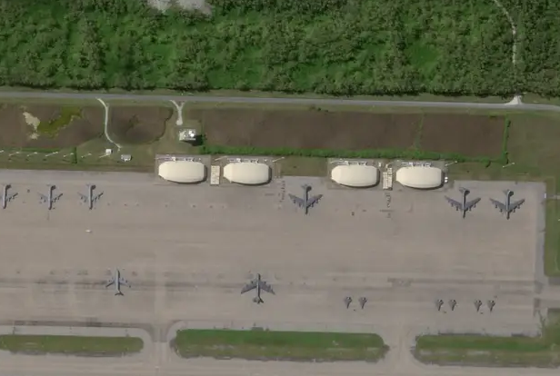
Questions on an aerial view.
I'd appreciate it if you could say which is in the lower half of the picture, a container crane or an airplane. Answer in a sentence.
The one visible in the lower half of the picture is an airplane.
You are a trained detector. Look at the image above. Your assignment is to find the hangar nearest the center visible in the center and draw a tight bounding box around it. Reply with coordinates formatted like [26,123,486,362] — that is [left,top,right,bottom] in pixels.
[224,163,269,185]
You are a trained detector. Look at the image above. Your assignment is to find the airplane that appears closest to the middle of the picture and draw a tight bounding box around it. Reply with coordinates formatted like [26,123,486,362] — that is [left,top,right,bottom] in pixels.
[289,183,324,213]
